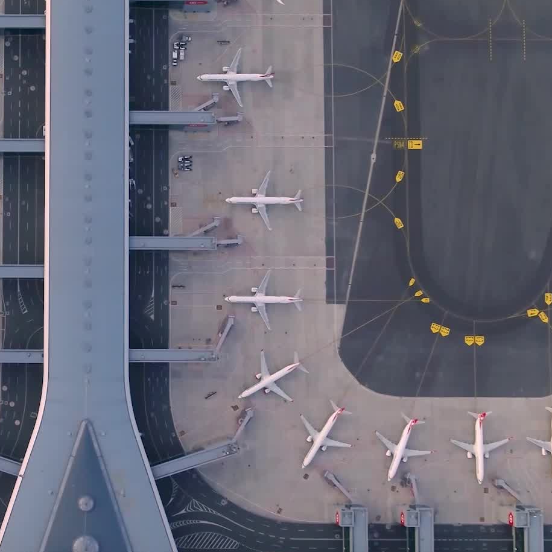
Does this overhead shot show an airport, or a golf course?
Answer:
airport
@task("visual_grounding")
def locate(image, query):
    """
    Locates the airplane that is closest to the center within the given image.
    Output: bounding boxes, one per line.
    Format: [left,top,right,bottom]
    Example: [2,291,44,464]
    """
[225,269,305,330]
